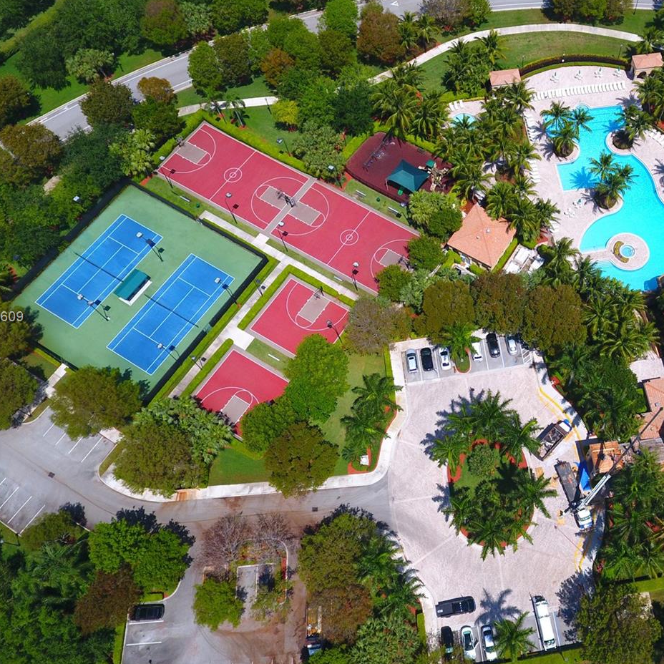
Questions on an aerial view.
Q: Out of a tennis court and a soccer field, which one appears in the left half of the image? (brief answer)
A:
tennis court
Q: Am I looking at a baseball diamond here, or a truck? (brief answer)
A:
truck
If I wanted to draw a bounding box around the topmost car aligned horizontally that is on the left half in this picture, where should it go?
[133,604,167,622]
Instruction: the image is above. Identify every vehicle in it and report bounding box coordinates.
[419,348,434,373]
[530,596,558,648]
[504,333,521,357]
[405,348,420,373]
[467,333,486,366]
[481,627,495,660]
[484,333,501,358]
[438,347,452,370]
[439,597,474,615]
[440,625,454,654]
[303,624,323,664]
[556,406,664,533]
[133,604,167,622]
[458,625,476,658]
[537,420,576,464]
